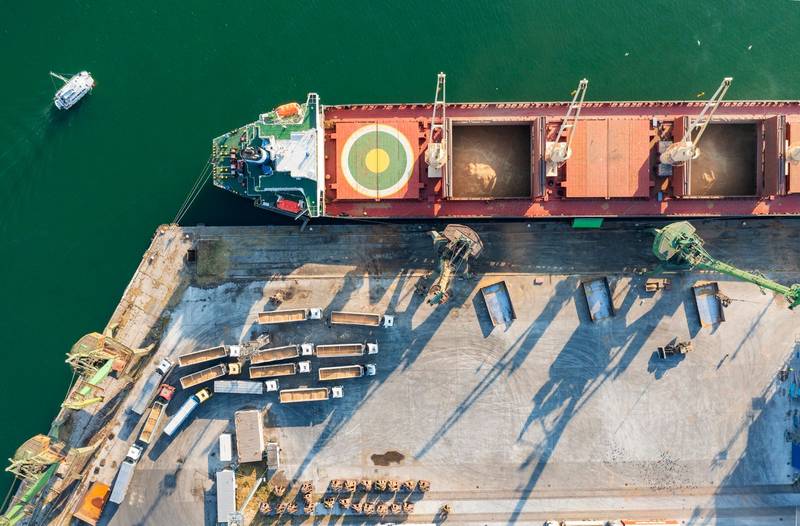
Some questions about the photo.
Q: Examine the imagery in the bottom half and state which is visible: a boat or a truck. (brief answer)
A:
truck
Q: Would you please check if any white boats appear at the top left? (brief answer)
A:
Yes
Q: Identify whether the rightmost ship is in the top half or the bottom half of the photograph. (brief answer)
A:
top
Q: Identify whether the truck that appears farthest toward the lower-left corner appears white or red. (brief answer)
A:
white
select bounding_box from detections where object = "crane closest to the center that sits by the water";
[425,226,483,306]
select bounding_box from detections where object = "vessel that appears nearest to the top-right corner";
[213,70,800,222]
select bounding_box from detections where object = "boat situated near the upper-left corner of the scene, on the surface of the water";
[53,70,96,113]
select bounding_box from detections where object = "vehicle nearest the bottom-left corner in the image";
[110,441,146,504]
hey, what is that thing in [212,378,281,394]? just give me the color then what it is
white vehicle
